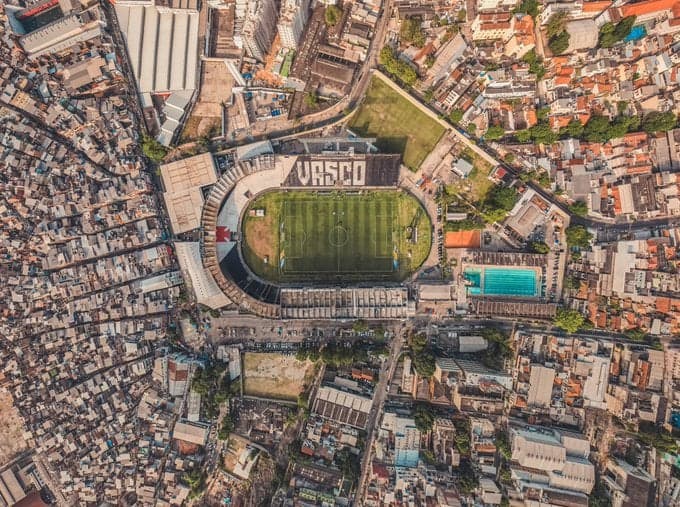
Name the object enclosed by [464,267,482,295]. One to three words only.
swimming pool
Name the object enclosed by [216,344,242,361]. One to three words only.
building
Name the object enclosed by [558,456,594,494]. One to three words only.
shed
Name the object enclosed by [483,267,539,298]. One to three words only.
swimming pool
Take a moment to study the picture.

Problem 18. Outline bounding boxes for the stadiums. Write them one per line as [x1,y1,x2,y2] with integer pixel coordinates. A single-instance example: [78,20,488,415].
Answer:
[201,153,433,321]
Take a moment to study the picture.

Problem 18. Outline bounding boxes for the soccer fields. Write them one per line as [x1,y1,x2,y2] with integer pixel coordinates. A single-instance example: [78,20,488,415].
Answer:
[282,198,396,275]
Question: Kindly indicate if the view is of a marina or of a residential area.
residential area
